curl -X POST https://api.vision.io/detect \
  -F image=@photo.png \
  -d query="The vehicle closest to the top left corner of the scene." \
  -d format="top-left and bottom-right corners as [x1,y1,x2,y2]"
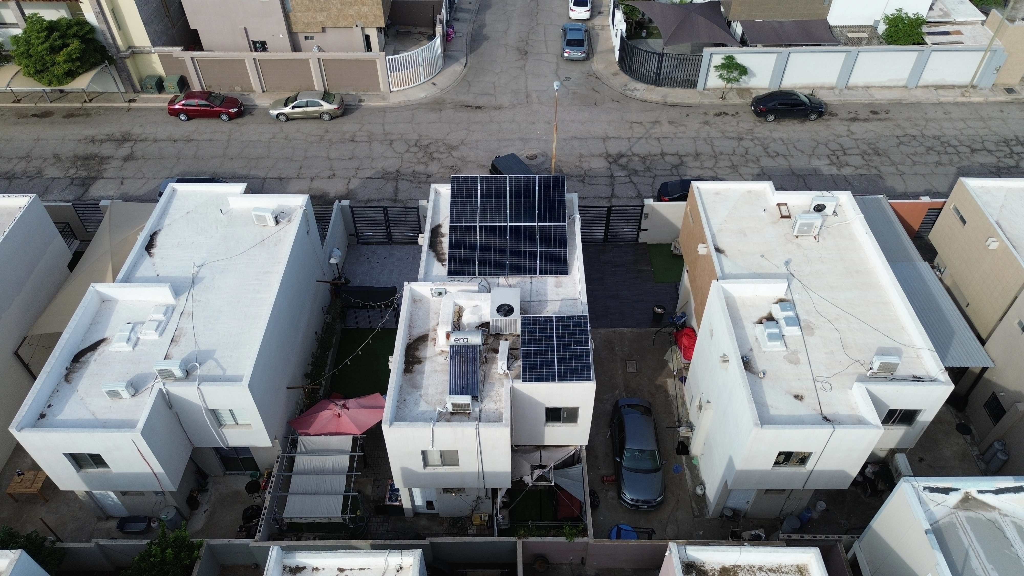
[166,90,245,122]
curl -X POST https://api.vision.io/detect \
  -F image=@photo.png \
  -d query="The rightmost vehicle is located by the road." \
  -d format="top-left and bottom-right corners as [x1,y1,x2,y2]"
[752,89,829,123]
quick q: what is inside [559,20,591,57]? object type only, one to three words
car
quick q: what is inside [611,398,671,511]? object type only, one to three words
car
